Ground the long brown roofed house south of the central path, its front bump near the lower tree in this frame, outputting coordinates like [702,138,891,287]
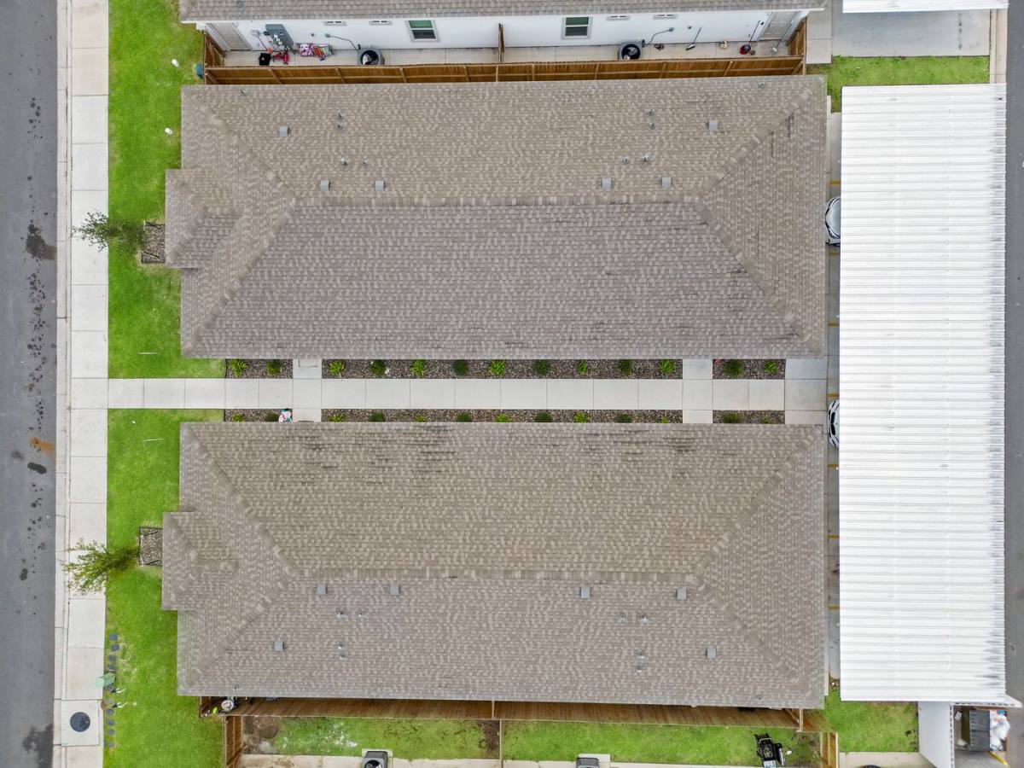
[162,422,823,708]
